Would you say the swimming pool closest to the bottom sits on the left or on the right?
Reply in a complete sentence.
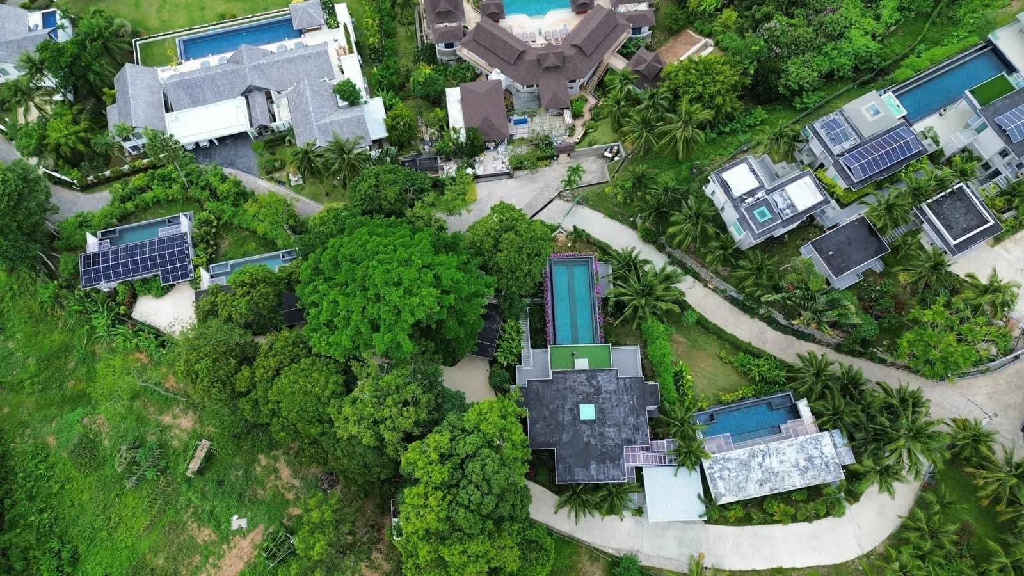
You can find the swimming pool closest to the bottom on the right side of the picture.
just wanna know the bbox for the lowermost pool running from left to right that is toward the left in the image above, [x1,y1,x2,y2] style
[208,248,301,281]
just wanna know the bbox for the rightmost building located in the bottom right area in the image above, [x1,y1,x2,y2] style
[699,432,855,505]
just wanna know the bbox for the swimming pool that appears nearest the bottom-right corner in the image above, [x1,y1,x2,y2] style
[695,393,795,453]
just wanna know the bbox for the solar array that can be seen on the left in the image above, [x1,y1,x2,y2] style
[82,235,189,285]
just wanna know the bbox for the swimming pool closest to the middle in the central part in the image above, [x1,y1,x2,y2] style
[549,256,600,346]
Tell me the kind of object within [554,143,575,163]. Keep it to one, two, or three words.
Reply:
shed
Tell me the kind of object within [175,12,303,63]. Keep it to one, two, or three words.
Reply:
swimming pool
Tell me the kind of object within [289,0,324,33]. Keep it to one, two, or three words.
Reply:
building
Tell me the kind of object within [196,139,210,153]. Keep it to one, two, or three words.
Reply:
car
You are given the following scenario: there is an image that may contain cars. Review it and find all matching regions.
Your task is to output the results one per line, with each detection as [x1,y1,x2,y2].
[196,139,210,153]
[181,143,194,154]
